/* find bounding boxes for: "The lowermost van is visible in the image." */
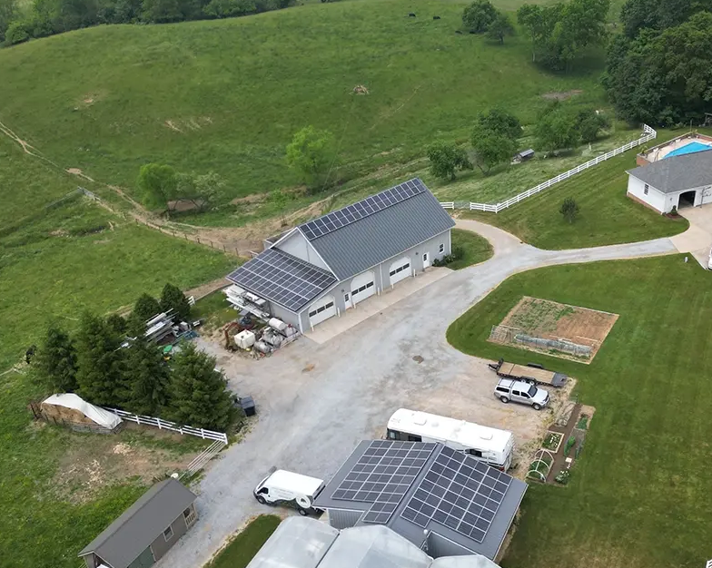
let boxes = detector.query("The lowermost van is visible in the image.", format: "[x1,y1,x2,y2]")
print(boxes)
[252,467,328,514]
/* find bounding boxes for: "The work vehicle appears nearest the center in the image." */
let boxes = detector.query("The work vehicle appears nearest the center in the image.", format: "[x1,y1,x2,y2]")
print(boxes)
[218,317,256,339]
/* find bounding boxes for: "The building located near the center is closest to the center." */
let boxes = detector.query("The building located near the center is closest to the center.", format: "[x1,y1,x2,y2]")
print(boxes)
[223,174,460,332]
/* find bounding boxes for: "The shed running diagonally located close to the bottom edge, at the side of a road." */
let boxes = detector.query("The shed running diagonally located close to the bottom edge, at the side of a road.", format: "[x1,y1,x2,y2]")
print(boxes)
[74,475,200,568]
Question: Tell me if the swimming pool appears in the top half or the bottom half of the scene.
top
